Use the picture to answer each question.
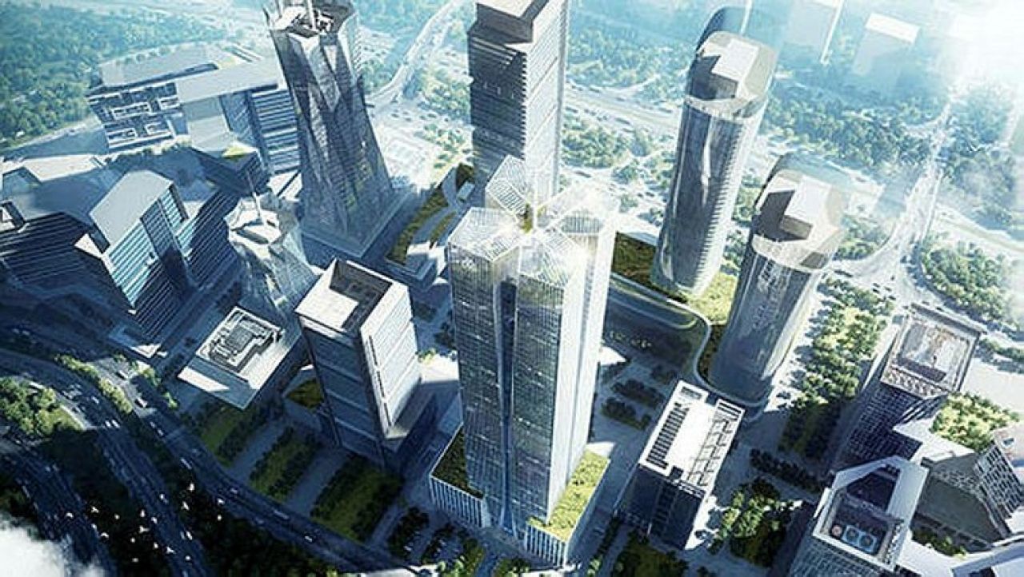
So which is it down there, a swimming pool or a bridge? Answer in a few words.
bridge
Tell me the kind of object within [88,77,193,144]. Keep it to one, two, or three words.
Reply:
building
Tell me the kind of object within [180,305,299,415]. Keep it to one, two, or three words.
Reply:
building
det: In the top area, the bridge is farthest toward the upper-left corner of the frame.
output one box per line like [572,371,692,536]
[374,0,473,113]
